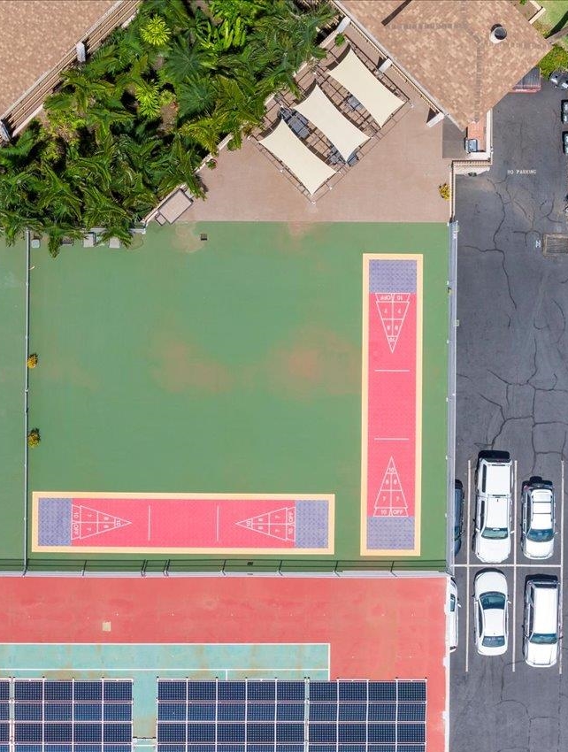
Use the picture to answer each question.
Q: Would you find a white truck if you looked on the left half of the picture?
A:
No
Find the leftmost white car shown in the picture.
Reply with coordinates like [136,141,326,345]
[448,577,463,652]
